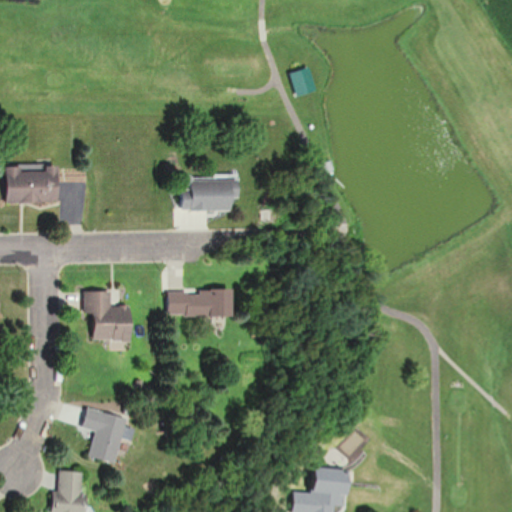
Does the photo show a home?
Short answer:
Yes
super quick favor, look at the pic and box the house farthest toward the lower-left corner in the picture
[52,471,88,512]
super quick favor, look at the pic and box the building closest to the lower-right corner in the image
[290,468,350,512]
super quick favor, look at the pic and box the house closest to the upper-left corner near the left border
[6,164,59,205]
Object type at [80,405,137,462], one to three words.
house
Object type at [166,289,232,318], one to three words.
house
